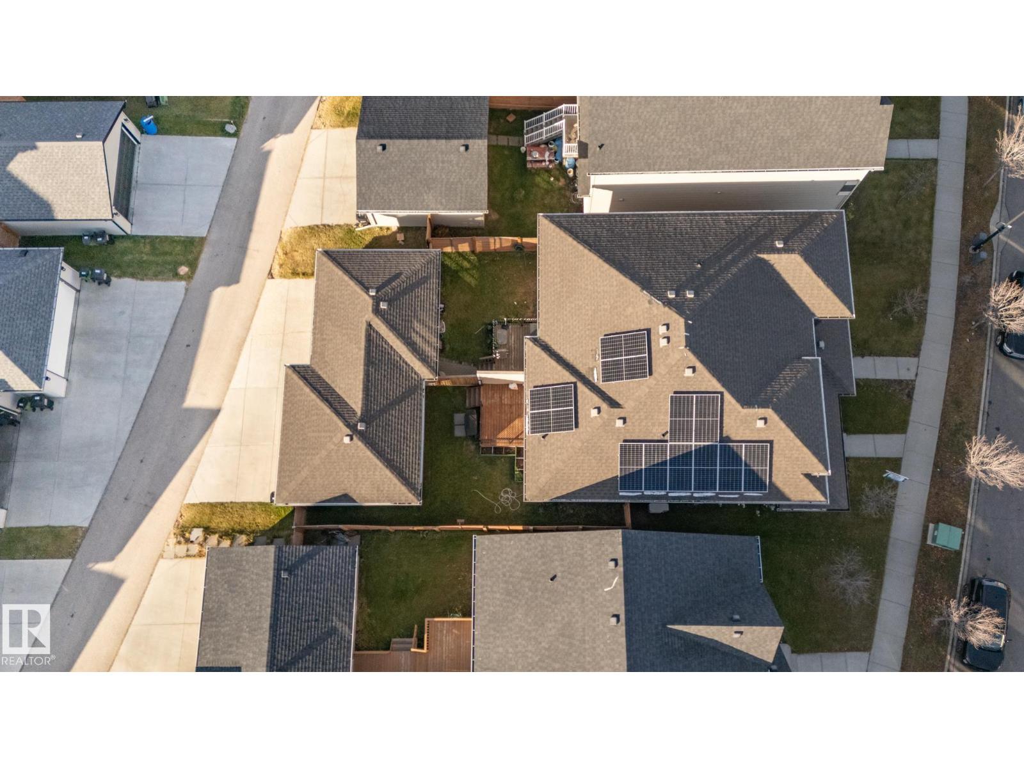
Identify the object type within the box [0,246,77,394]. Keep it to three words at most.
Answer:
building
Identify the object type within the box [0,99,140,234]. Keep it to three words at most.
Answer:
building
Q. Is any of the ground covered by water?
No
